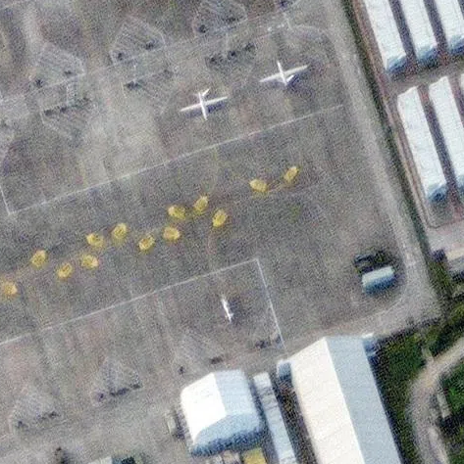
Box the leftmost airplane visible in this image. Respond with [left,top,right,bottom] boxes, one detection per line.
[179,92,226,119]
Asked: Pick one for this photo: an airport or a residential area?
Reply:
airport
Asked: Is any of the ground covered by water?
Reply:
No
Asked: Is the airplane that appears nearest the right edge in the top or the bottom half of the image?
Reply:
top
